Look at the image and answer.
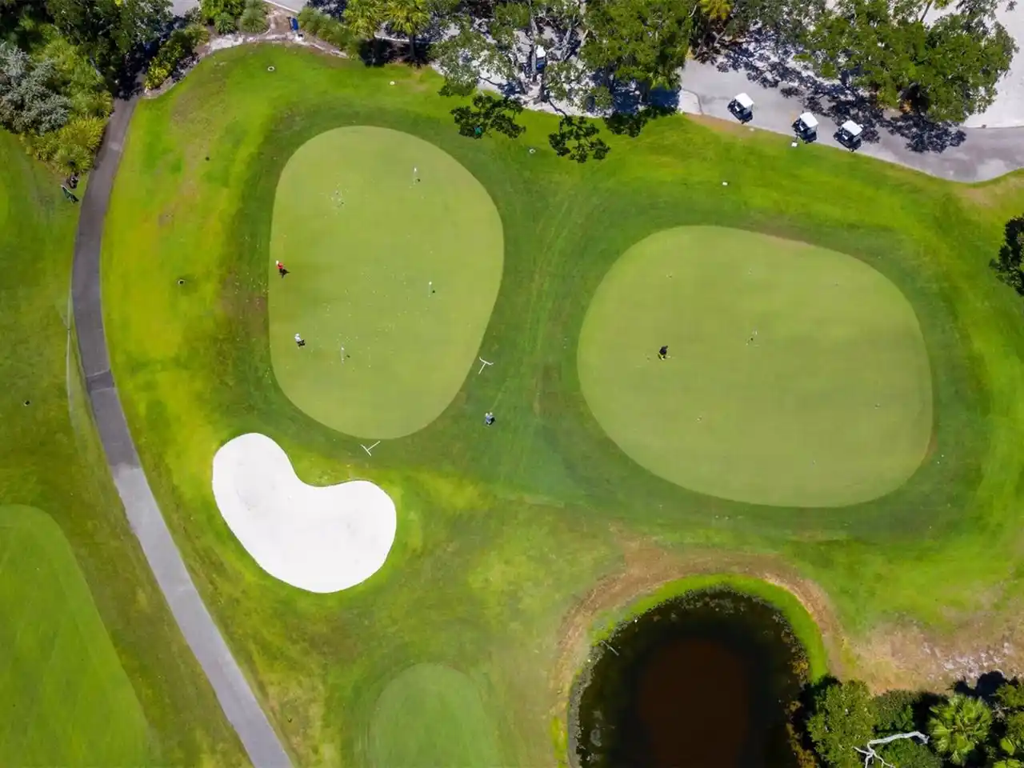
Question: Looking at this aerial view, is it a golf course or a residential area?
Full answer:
This image shows a golf course.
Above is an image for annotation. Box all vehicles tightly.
[729,94,754,123]
[791,113,818,142]
[833,121,863,150]
[532,45,546,72]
